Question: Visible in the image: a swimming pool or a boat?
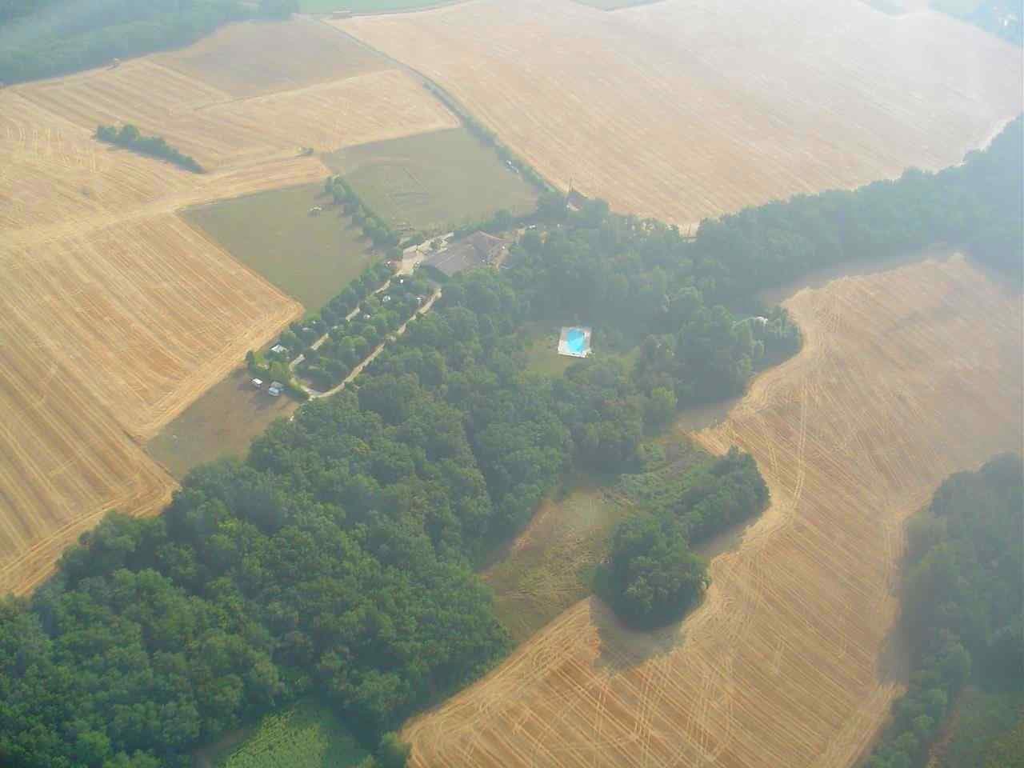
swimming pool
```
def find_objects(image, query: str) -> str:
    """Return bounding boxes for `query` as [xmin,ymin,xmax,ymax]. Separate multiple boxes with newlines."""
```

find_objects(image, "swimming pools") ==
[557,326,588,356]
